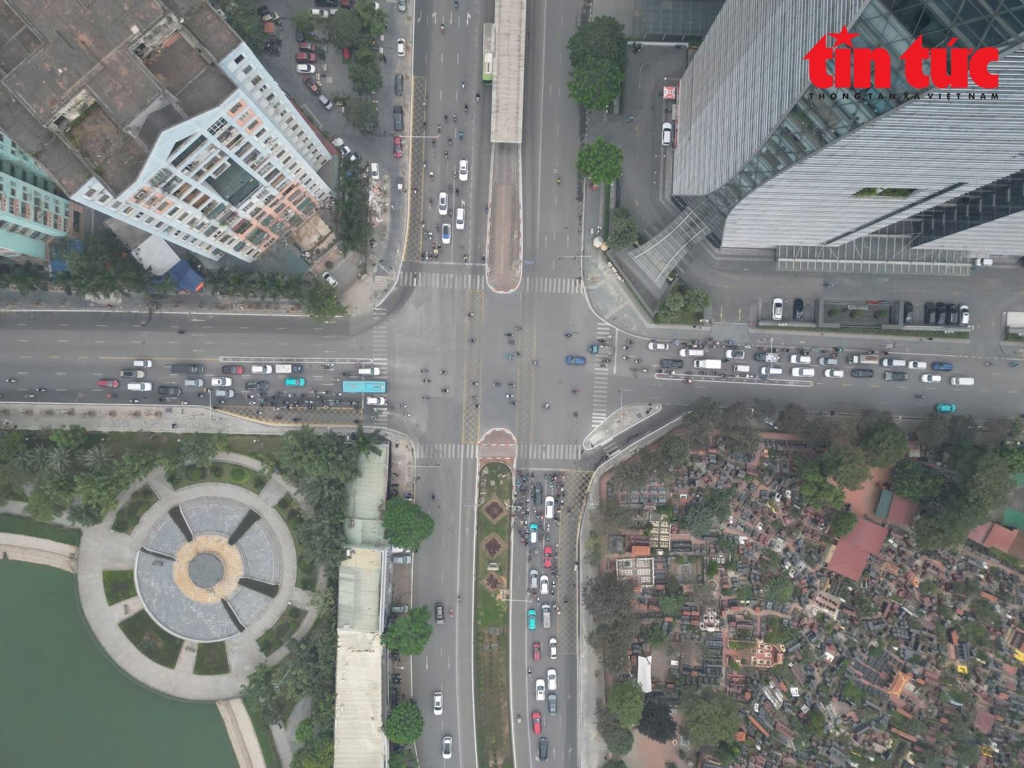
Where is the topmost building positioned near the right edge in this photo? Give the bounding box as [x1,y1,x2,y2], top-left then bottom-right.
[671,0,1024,249]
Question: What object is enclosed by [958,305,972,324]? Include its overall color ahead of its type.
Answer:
white car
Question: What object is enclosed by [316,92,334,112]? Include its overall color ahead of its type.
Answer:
gray car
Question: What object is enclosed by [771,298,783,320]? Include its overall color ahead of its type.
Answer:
white vehicle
